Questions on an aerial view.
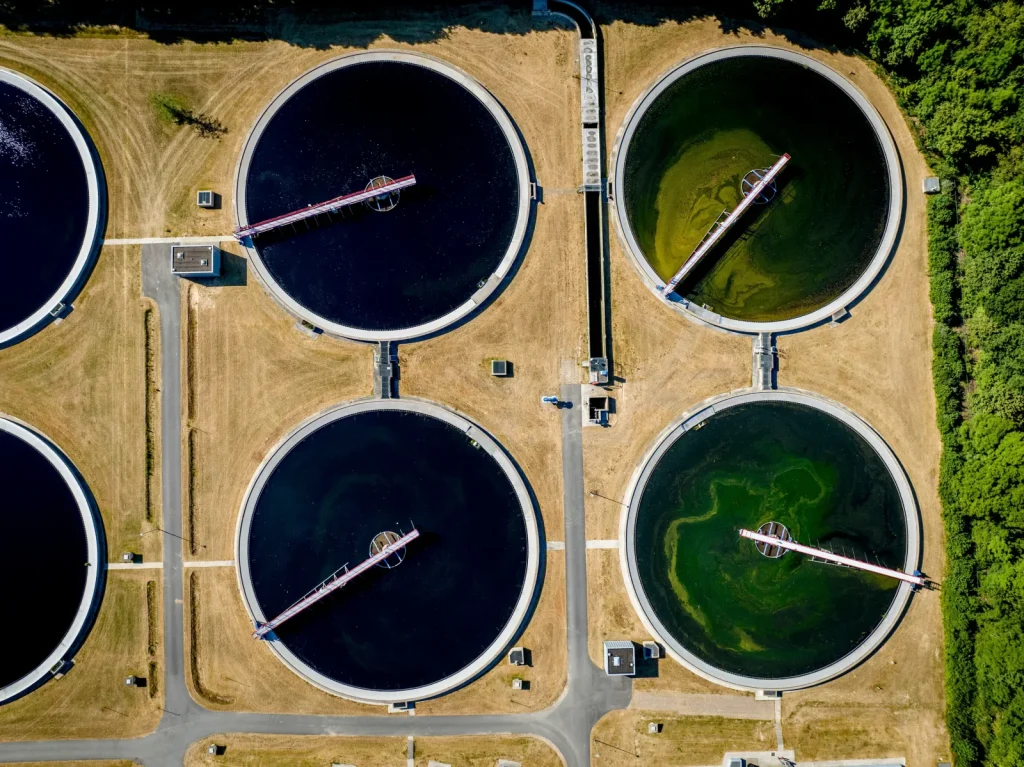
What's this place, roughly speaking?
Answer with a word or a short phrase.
industrial area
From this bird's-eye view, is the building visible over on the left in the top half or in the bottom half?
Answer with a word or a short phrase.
top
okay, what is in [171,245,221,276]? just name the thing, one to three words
building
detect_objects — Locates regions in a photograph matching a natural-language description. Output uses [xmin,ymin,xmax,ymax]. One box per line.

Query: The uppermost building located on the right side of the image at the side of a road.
[605,641,635,676]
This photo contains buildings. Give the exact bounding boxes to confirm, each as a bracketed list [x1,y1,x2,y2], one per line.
[727,755,744,767]
[605,641,635,676]
[171,245,221,276]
